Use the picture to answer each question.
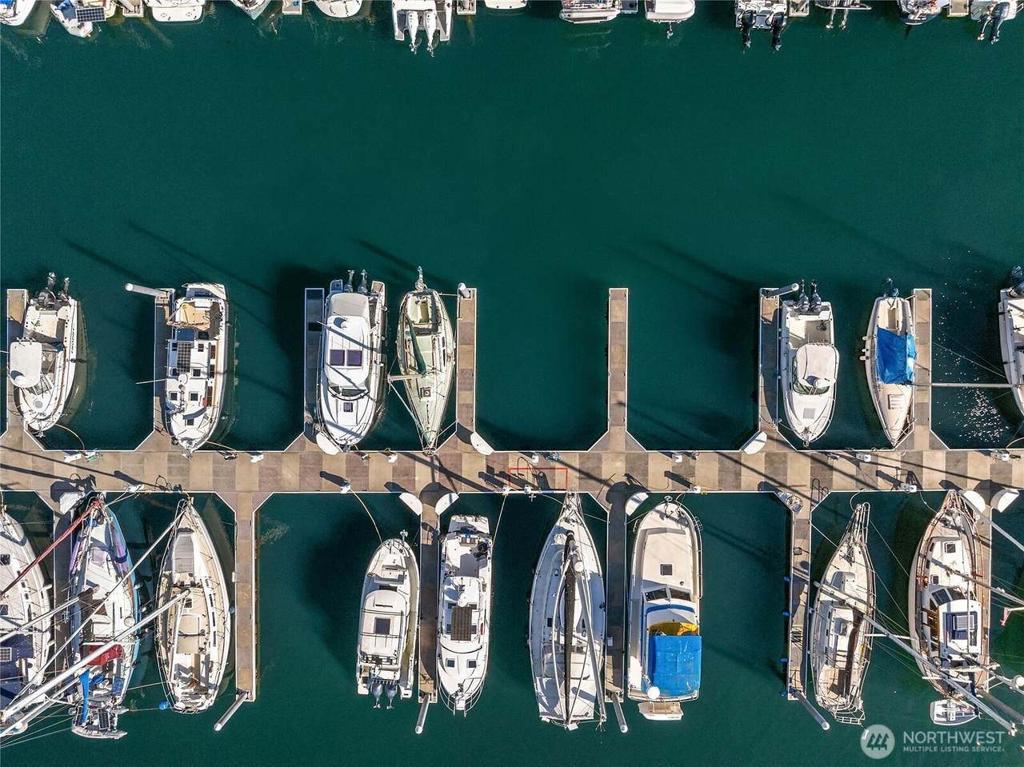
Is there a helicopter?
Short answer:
No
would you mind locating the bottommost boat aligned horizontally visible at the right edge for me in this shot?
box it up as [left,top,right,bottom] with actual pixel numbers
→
[926,699,984,725]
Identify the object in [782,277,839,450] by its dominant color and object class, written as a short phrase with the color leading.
white boat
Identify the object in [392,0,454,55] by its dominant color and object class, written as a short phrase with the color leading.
white boat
